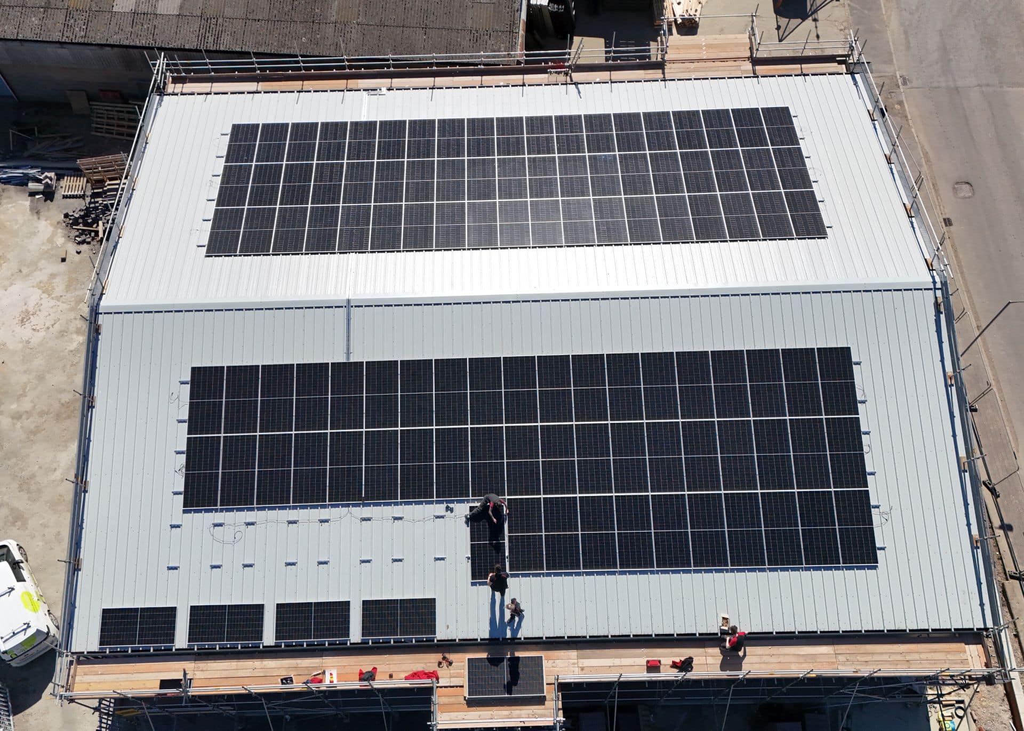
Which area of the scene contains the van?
bottom left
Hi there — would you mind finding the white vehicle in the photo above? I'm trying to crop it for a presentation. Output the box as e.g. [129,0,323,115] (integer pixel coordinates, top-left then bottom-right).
[0,535,59,672]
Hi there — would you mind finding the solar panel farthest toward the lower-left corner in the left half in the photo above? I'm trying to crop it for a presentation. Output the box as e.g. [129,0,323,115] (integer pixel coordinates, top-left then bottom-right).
[99,607,177,647]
